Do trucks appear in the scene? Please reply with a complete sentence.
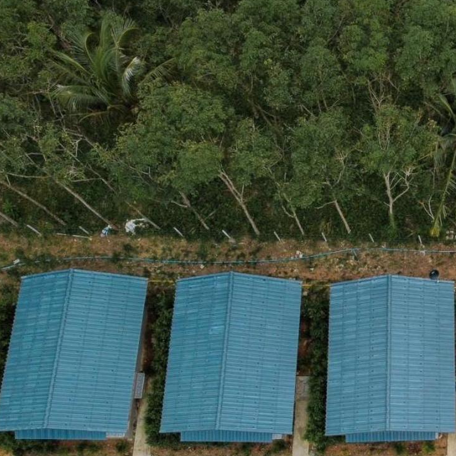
No, no truck can be seen from above.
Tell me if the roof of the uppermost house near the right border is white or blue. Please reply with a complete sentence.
The roof of the uppermost house near the right border looks blue in the image.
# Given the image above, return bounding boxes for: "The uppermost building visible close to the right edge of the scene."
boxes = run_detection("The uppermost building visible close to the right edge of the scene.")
[323,275,456,443]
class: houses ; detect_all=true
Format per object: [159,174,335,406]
[157,272,306,443]
[323,275,456,443]
[0,269,155,441]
